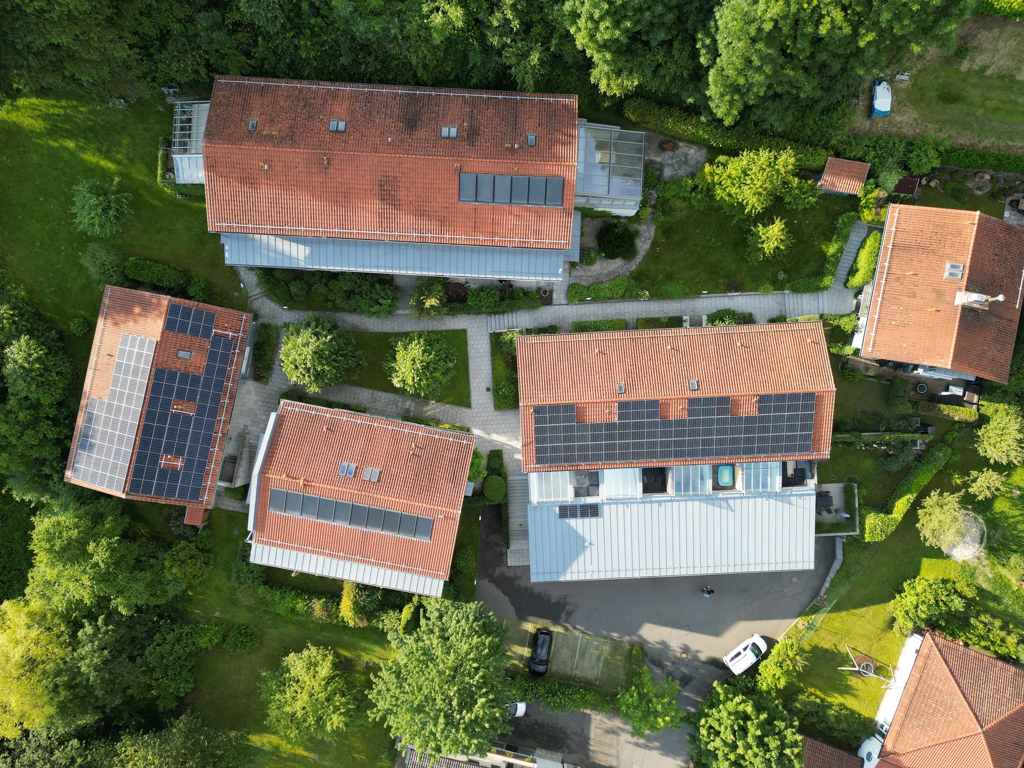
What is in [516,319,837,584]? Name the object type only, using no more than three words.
house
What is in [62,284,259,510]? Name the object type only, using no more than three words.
house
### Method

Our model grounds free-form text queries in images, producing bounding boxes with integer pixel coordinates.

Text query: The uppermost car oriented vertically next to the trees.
[528,626,553,676]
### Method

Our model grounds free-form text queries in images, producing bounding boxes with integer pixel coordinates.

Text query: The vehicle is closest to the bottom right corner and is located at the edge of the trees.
[721,633,766,677]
